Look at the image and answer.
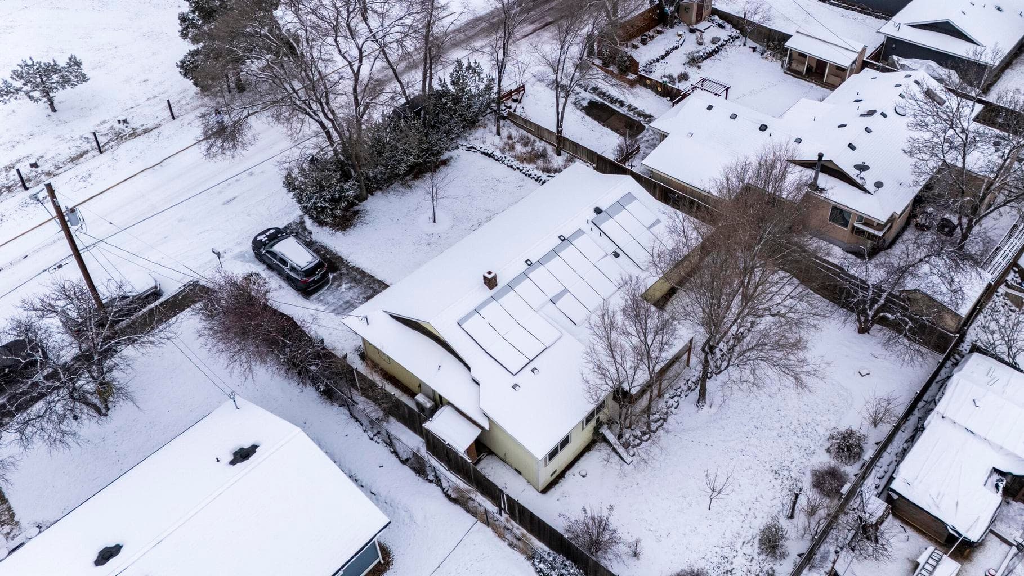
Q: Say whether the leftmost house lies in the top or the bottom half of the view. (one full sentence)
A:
The leftmost house sits in the bottom half of the picture.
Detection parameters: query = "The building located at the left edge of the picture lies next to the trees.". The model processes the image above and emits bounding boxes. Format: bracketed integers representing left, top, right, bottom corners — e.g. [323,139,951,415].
[0,391,387,576]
